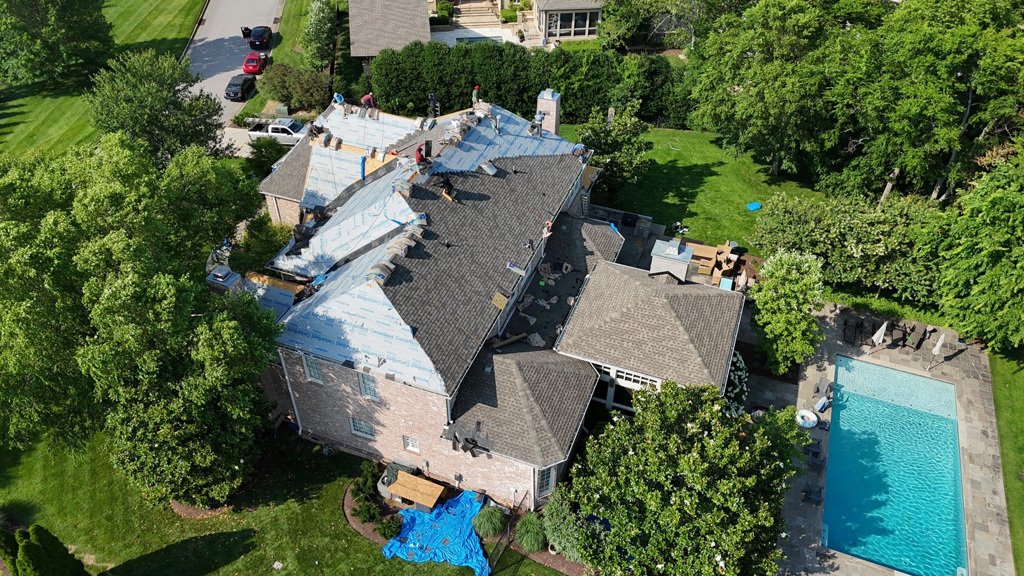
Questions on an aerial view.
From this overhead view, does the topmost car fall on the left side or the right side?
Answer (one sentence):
The topmost car is on the left side of the image.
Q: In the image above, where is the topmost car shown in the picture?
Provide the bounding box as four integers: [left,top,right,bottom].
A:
[241,26,275,51]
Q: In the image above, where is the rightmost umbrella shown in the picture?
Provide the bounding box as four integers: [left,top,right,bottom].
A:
[927,333,945,371]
